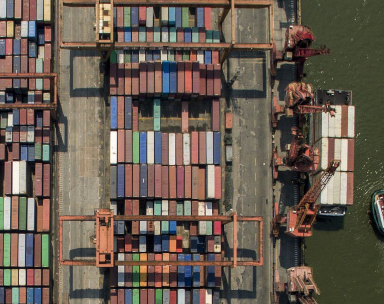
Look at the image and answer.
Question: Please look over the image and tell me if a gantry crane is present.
Yes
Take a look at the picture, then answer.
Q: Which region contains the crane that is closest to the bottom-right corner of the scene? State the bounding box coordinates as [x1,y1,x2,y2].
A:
[273,266,321,304]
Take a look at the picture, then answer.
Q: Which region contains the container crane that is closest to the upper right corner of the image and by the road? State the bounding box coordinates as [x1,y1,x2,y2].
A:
[273,18,335,77]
